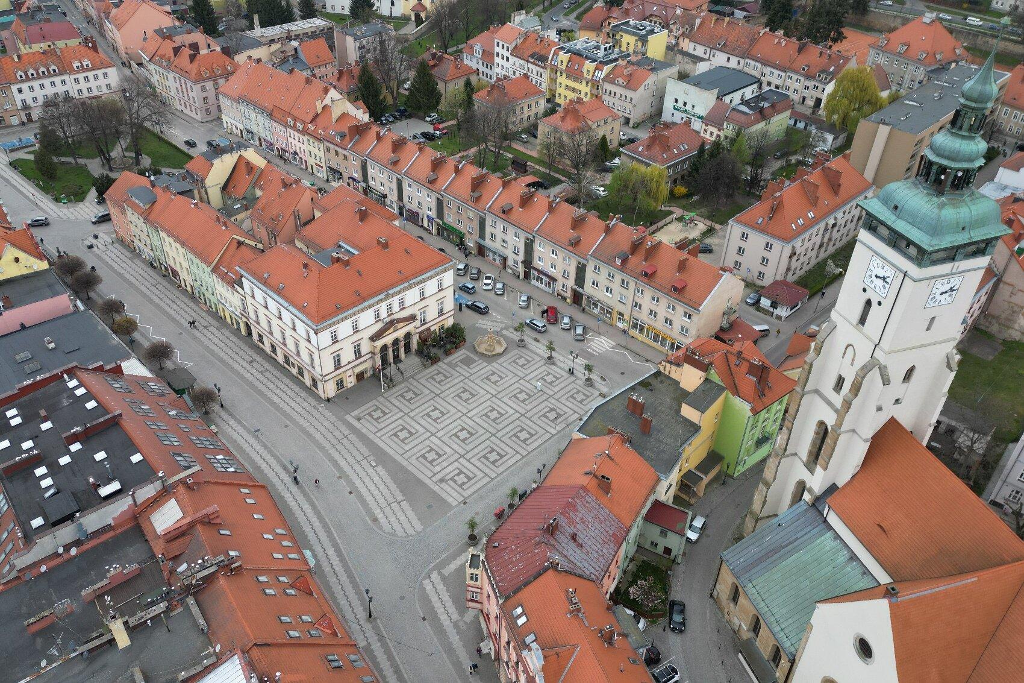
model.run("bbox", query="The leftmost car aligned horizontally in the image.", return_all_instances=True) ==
[26,215,51,227]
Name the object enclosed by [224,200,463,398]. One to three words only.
building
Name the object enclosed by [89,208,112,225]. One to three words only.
vehicle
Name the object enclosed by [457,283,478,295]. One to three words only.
vehicle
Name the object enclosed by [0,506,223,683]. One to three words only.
building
